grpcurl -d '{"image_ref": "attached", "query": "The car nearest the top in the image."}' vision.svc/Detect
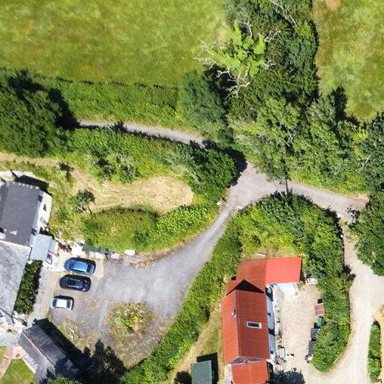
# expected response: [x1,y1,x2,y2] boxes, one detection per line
[65,259,97,274]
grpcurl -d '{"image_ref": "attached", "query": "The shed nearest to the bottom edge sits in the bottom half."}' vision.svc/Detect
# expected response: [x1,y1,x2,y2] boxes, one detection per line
[191,360,219,384]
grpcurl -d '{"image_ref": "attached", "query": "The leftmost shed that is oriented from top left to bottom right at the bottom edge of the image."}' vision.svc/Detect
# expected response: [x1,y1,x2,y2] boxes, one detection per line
[18,323,96,384]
